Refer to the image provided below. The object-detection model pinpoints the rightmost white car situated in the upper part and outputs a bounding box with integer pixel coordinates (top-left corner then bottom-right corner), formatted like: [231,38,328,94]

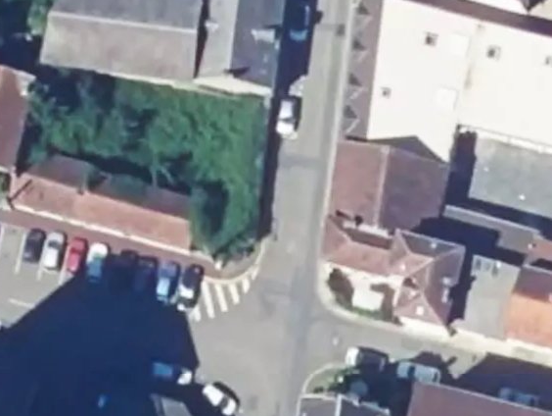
[277,99,296,139]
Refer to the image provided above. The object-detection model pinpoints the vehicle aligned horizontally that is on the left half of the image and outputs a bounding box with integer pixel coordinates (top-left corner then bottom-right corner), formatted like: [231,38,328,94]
[153,361,196,385]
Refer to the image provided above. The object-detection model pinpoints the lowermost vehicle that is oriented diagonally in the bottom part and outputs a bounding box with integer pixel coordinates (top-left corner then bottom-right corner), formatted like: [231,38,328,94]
[202,381,240,416]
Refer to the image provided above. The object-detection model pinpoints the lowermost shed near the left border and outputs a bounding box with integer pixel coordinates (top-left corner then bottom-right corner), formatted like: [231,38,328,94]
[14,157,191,256]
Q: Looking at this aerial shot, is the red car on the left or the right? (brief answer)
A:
left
